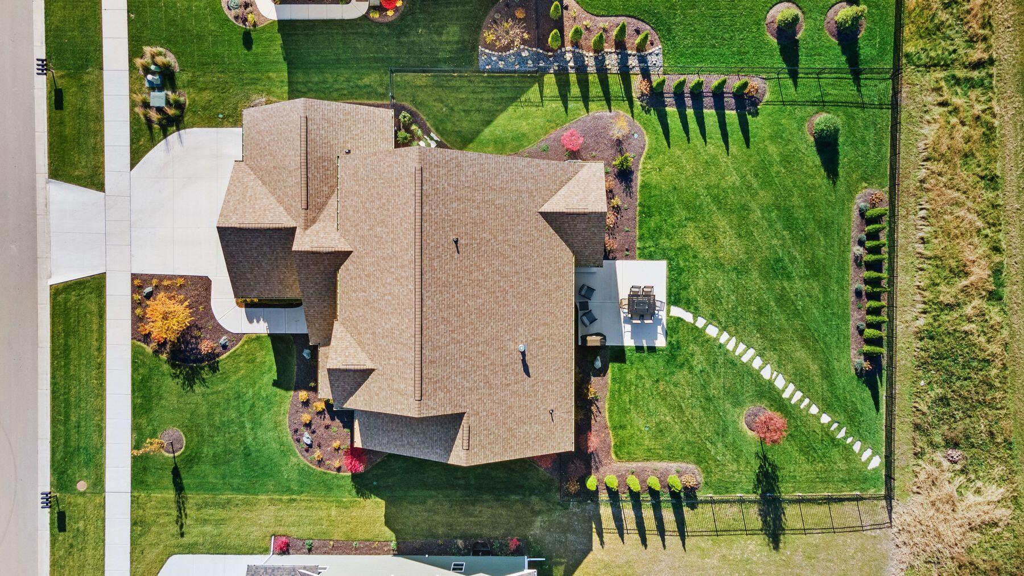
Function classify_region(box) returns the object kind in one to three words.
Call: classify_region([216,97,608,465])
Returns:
house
